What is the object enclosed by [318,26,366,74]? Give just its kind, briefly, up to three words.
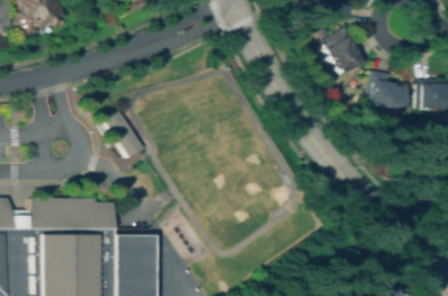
house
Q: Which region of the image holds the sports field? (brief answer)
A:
center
